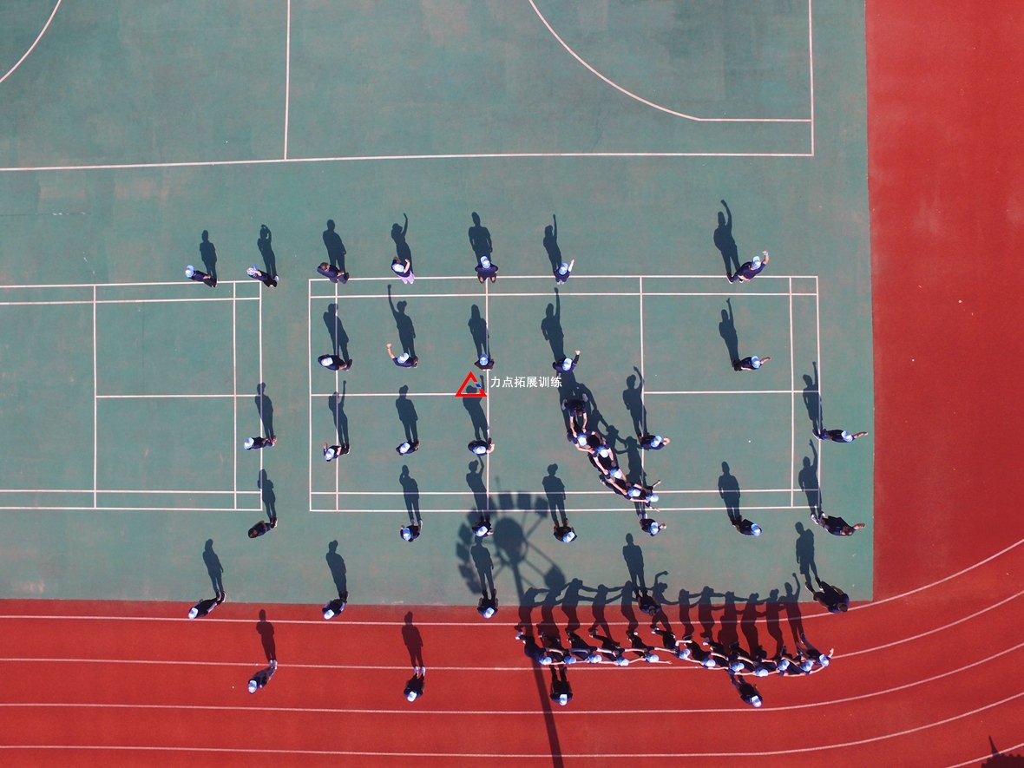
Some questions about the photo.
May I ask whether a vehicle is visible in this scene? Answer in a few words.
No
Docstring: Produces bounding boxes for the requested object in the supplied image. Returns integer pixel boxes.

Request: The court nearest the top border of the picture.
[0,0,814,170]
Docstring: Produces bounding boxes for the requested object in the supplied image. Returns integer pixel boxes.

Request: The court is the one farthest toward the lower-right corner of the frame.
[308,276,821,512]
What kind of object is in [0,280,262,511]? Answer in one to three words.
sports court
